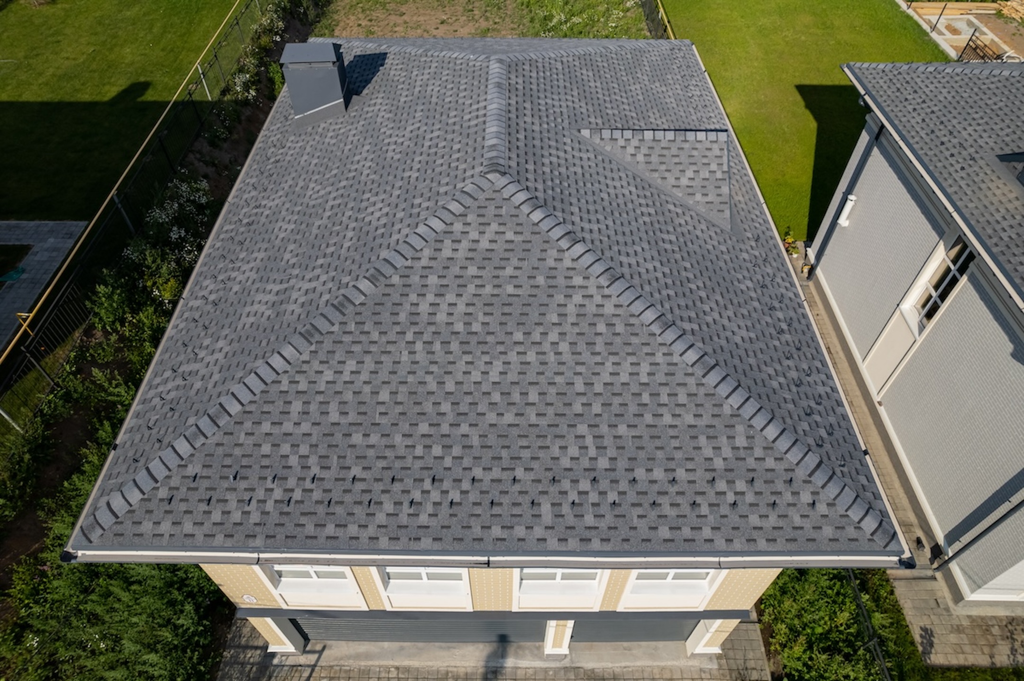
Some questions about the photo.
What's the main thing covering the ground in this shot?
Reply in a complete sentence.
The largest share of the image is taken up by buildings.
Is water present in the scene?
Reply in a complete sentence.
No, there is no water in the image.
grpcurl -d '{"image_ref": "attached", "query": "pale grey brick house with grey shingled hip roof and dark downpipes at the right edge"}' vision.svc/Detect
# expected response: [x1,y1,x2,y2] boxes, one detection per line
[802,66,1024,604]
